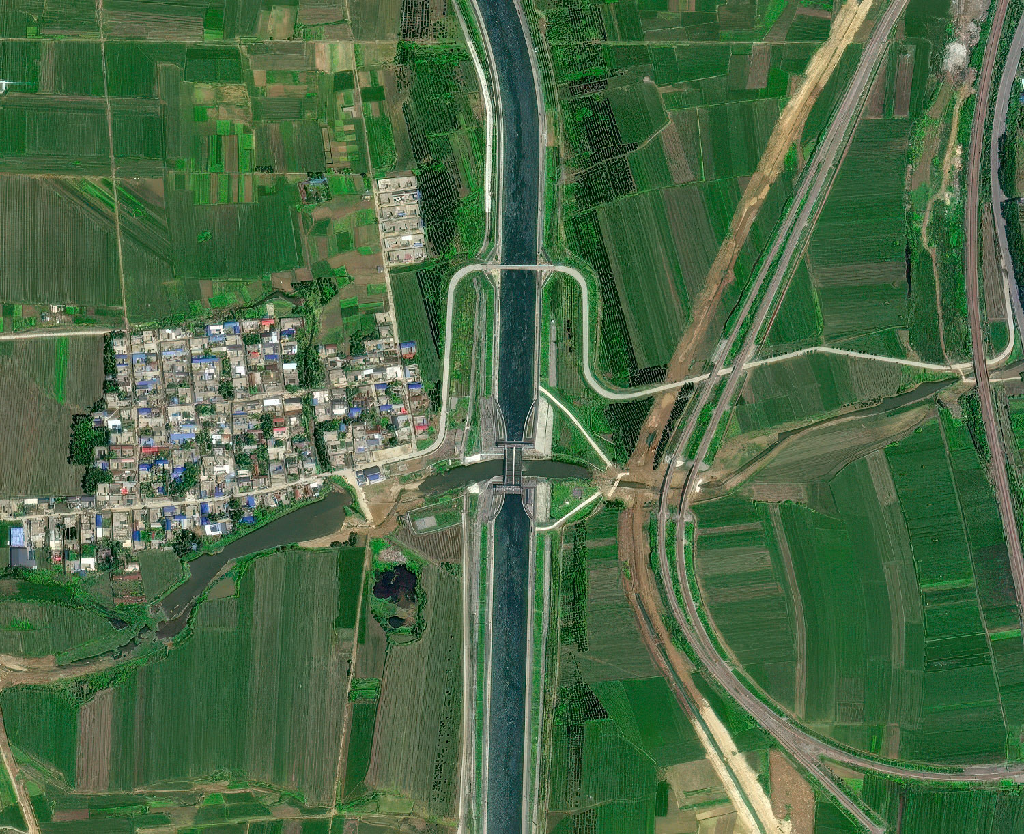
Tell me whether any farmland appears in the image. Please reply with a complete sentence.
Yes, some farmland is visible.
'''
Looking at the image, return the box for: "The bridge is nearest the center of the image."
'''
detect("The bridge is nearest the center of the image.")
[505,448,523,486]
